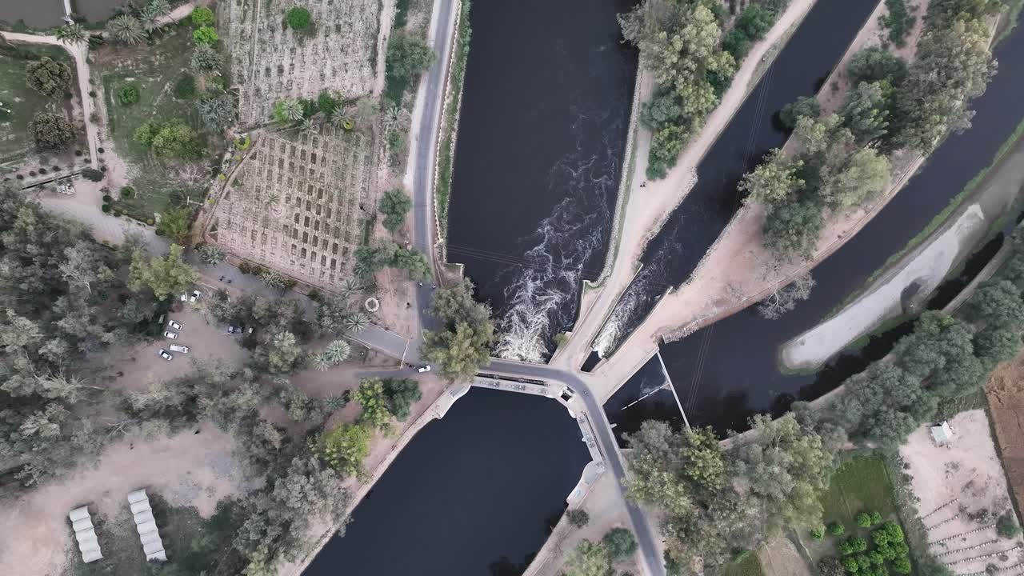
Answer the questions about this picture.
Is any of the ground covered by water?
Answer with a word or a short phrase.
Yes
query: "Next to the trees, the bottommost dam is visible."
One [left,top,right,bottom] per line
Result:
[576,406,621,462]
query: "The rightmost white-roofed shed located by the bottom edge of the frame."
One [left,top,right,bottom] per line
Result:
[128,489,167,564]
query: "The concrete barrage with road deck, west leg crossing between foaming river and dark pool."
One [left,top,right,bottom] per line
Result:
[471,357,550,397]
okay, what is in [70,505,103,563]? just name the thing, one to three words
shed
